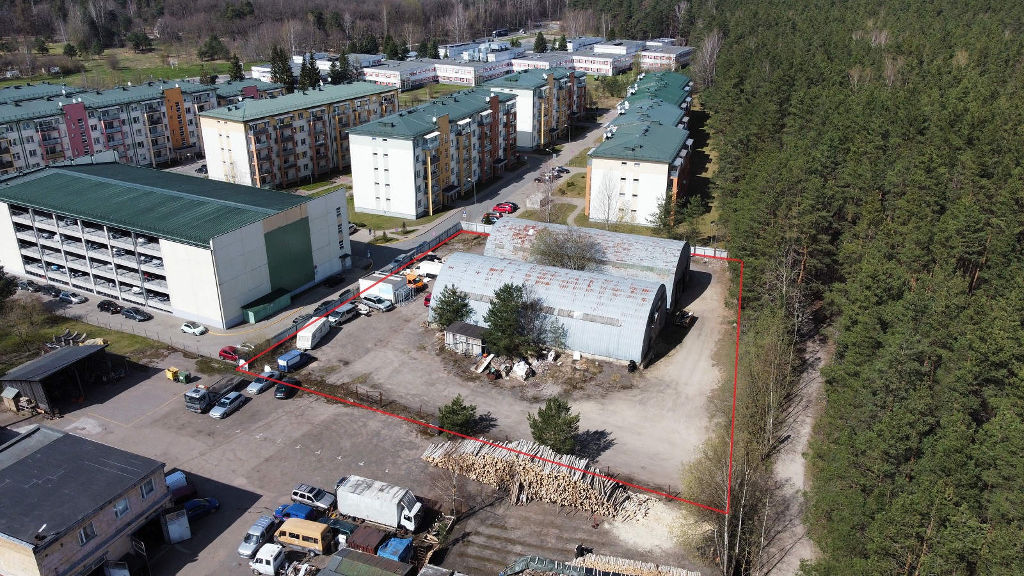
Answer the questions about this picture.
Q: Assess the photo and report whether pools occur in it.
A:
No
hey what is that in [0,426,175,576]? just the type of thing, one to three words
building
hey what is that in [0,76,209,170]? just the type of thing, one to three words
building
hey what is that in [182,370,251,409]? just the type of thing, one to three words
truck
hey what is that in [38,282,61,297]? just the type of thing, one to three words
car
